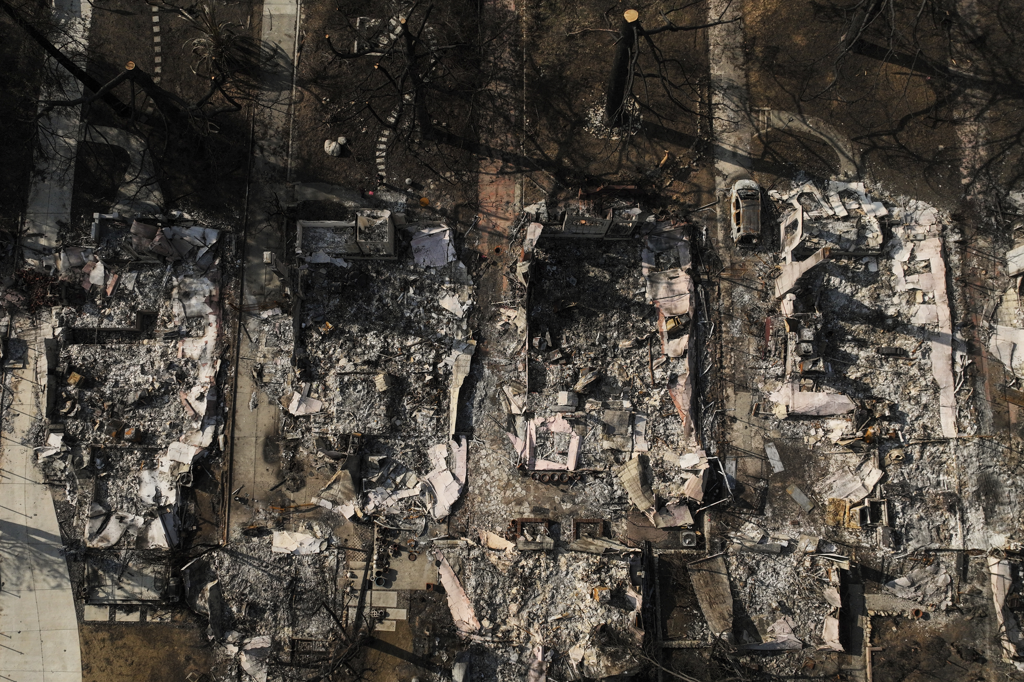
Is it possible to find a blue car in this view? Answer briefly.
No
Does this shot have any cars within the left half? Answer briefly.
No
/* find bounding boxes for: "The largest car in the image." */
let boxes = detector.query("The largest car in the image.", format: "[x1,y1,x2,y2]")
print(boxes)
[731,181,764,249]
